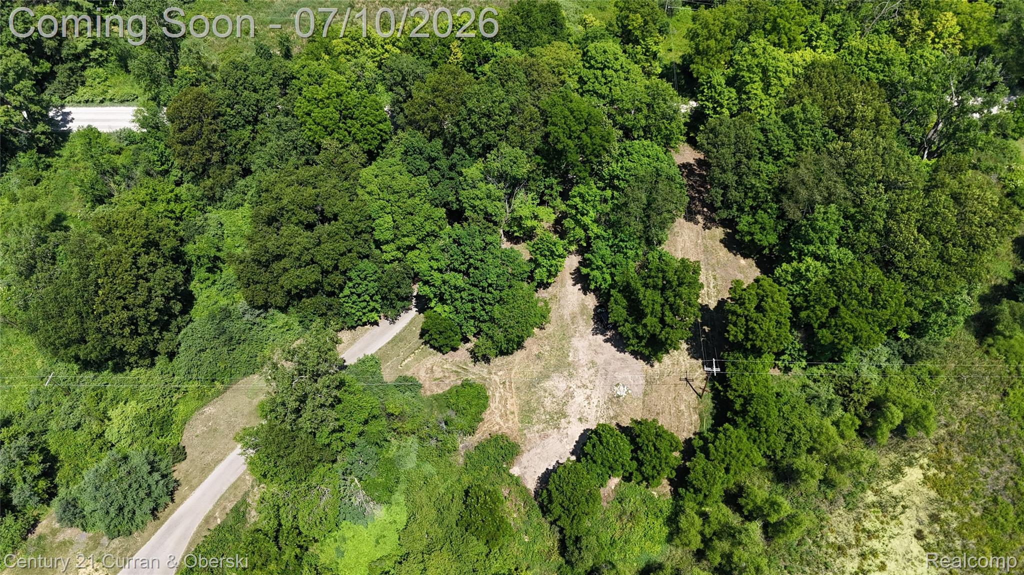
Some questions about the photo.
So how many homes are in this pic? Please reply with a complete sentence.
The picture shows no homes.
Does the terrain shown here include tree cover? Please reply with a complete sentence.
Yes, there is tree cover in the image.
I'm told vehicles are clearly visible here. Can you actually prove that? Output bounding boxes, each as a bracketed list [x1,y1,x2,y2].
[594,309,613,328]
